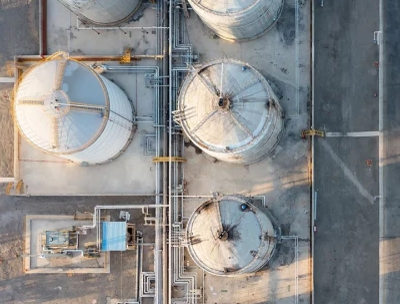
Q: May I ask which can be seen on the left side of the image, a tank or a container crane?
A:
tank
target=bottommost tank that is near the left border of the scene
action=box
[12,54,138,164]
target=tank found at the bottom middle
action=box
[181,195,277,275]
